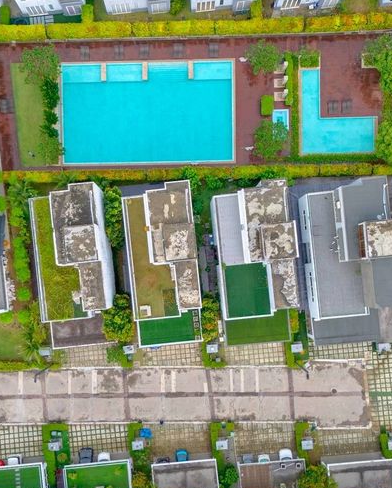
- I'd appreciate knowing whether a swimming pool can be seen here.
Yes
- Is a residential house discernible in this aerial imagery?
Yes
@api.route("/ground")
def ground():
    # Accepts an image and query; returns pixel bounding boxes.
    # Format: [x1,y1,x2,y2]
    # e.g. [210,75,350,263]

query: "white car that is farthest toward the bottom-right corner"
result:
[278,447,293,460]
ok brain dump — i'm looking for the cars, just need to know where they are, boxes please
[175,448,189,462]
[79,447,93,465]
[97,451,111,462]
[256,453,269,462]
[278,447,293,460]
[0,458,5,466]
[8,455,22,465]
[241,453,255,464]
